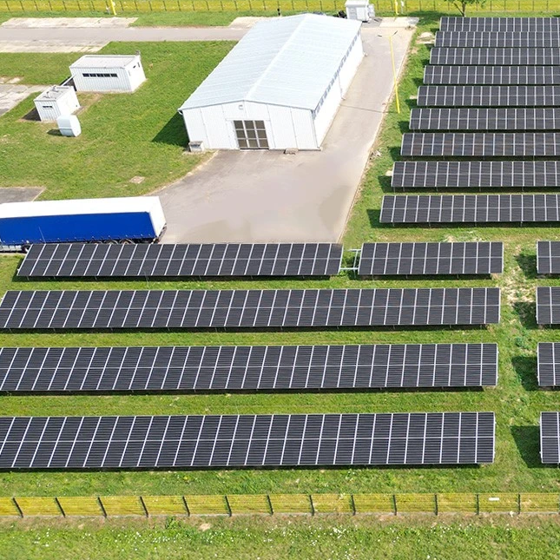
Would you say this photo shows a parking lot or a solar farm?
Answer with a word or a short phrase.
solar farm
